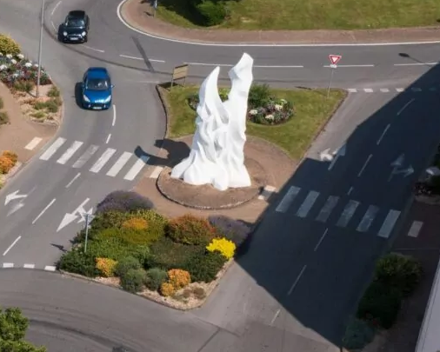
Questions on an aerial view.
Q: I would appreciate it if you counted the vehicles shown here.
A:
2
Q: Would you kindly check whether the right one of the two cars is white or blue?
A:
blue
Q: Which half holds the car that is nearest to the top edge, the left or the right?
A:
left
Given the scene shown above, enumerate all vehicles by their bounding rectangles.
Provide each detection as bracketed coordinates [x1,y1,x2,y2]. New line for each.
[60,3,93,44]
[79,62,115,109]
